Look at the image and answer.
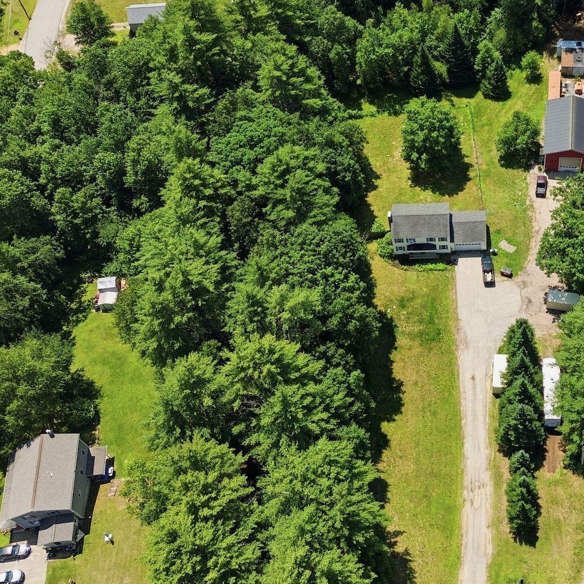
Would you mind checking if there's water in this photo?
No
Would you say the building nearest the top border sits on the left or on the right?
left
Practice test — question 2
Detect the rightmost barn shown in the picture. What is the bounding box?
[540,94,584,172]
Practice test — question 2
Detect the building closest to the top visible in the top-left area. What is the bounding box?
[126,7,159,35]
